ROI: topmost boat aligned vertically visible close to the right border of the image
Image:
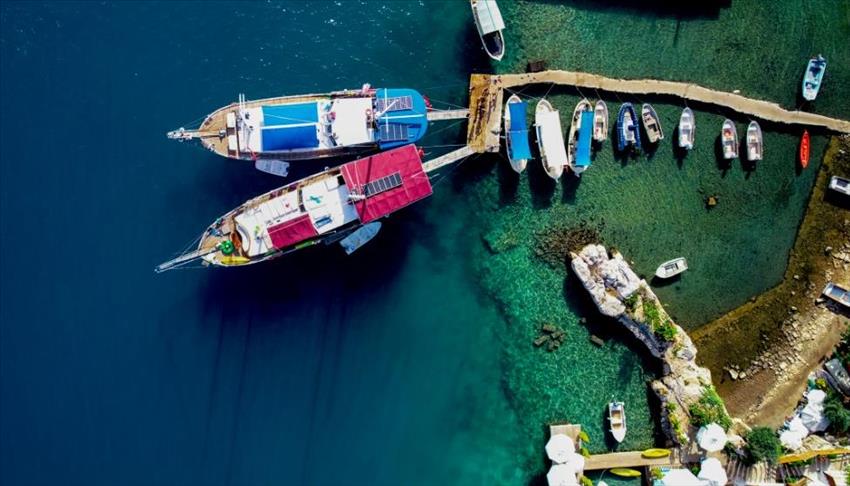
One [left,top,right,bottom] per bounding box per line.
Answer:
[804,56,826,100]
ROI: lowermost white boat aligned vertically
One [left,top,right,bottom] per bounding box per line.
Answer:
[610,400,629,444]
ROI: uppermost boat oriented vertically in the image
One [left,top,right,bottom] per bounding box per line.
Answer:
[475,0,507,60]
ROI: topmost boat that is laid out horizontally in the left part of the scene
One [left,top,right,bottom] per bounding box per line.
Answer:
[168,83,432,163]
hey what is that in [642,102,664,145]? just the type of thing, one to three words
boat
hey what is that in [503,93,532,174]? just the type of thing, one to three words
boat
